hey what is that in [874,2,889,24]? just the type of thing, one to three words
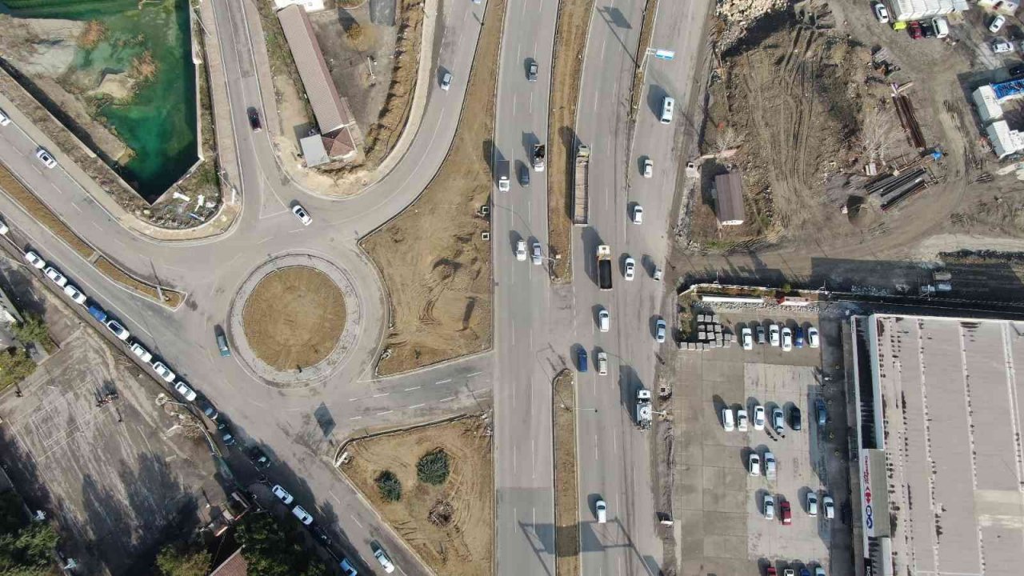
car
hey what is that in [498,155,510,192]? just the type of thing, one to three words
vehicle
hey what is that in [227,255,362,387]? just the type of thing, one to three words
roundabout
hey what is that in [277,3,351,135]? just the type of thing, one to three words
house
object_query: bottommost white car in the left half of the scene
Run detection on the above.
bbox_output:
[373,548,395,573]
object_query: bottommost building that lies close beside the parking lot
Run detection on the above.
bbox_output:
[826,314,1024,576]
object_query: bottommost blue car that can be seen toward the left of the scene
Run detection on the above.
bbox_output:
[338,556,359,576]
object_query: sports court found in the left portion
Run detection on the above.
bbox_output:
[8,376,122,462]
